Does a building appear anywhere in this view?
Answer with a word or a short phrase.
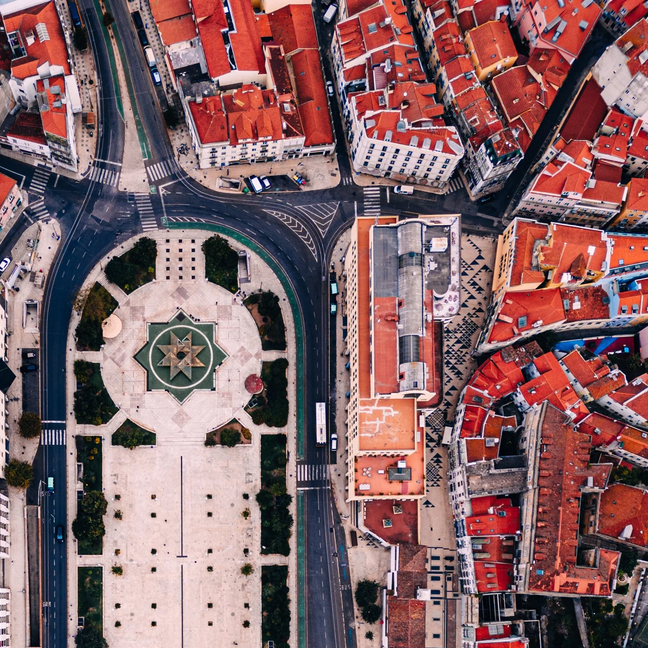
Yes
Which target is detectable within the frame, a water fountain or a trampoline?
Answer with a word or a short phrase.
water fountain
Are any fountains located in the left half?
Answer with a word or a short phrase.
Yes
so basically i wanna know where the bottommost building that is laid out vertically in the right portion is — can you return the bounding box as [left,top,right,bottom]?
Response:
[383,543,430,648]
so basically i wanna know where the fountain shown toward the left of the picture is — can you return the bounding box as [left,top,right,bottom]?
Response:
[132,308,228,404]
